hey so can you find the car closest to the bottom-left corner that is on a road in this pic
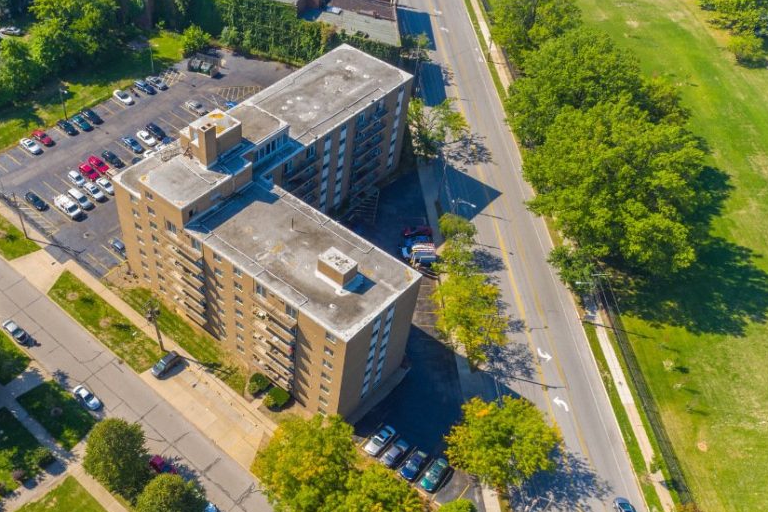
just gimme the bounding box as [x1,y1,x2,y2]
[73,384,102,411]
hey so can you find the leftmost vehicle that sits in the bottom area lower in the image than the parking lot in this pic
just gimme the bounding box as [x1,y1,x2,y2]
[3,321,29,344]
